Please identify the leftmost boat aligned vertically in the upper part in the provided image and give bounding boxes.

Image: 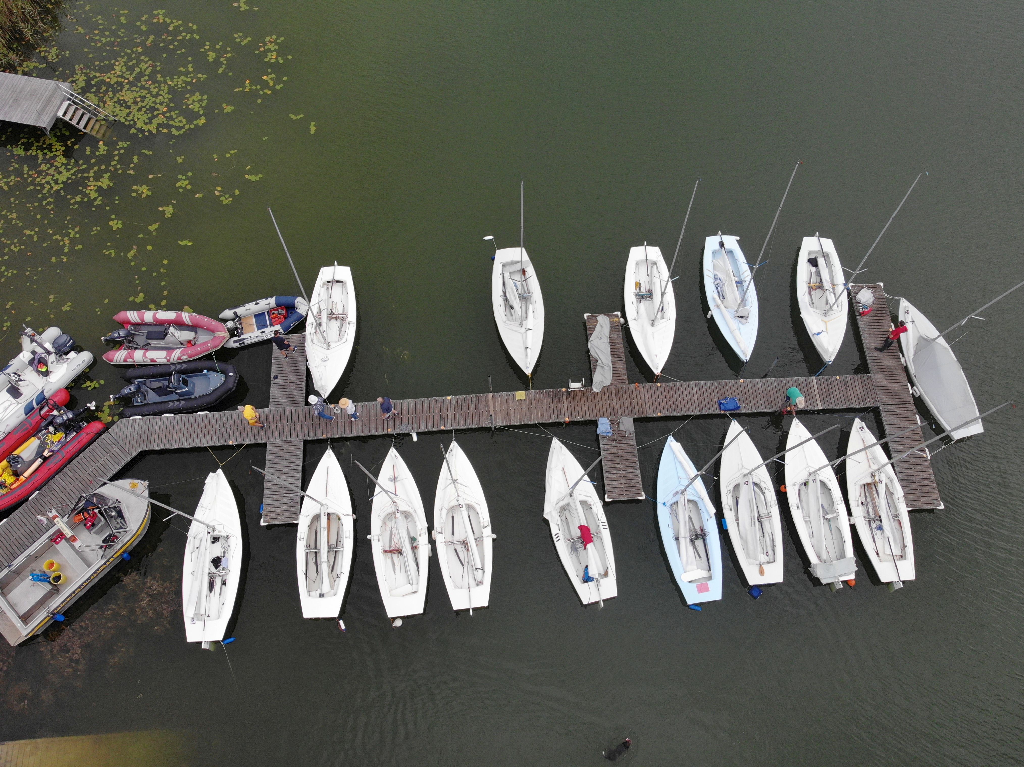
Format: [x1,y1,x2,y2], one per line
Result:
[267,200,356,398]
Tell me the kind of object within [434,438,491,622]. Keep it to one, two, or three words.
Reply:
boat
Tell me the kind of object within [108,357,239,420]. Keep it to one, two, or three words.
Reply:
boat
